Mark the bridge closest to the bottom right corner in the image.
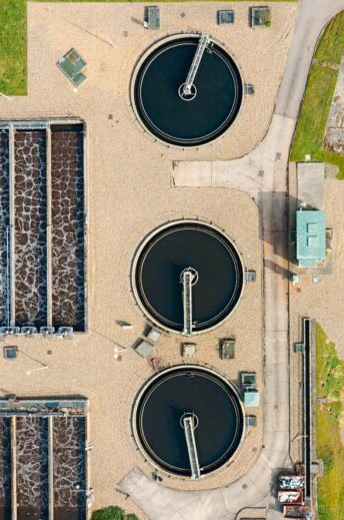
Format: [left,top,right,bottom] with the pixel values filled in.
[183,417,199,481]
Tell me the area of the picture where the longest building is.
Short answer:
right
